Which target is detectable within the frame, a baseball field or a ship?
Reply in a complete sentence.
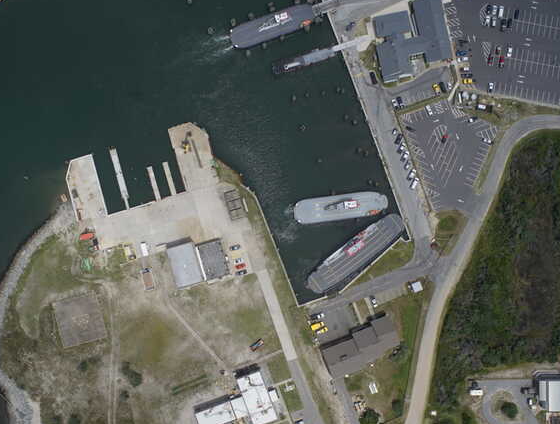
It is a ship that can be seen here.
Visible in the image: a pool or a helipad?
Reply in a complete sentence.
The one in the frame is a helipad.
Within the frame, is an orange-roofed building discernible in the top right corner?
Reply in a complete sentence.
No, no orange-roofed building appears in the top right corner.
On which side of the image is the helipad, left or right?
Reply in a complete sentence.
It is on the left.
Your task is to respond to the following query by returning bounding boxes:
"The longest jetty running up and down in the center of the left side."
[109,145,131,214]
